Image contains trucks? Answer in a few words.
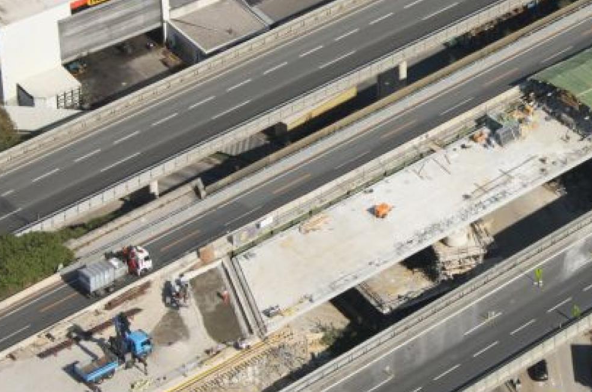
Yes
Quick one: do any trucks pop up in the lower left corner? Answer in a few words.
Yes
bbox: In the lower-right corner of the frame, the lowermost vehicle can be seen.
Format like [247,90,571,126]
[531,362,550,382]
